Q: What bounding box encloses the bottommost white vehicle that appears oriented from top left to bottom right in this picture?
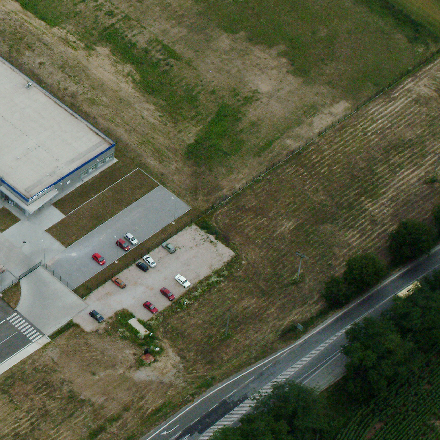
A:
[174,275,191,288]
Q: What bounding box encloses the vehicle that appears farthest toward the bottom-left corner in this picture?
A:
[88,310,104,323]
